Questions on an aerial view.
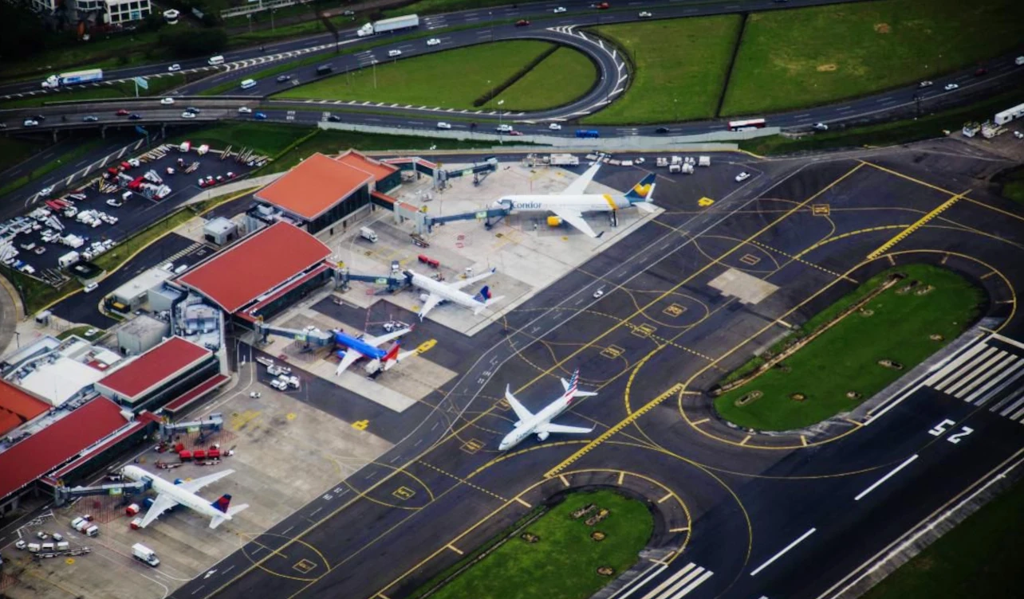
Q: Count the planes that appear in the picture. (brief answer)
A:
5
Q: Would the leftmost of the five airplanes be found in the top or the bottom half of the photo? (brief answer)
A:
bottom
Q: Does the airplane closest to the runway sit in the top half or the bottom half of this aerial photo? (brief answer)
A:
bottom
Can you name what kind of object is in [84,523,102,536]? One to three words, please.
vehicle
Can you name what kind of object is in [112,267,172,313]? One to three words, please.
building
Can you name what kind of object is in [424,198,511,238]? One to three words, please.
jet bridge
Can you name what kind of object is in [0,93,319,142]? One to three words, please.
bridge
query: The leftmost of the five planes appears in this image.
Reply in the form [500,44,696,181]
[123,468,246,528]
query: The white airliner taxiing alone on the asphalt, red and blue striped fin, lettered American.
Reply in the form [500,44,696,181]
[499,371,596,452]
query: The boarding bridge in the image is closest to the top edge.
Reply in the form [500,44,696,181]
[437,154,504,190]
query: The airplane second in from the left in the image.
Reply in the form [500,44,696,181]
[333,324,418,379]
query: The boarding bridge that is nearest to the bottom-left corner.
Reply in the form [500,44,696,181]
[57,469,158,514]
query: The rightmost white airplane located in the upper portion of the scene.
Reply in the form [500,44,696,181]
[500,154,655,241]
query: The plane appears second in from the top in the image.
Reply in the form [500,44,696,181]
[413,266,504,318]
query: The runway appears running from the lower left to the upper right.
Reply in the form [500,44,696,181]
[597,302,1024,599]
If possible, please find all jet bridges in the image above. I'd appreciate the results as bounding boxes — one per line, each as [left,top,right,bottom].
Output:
[257,322,343,352]
[57,469,158,514]
[160,409,230,448]
[437,154,504,190]
[424,198,511,238]
[339,267,419,296]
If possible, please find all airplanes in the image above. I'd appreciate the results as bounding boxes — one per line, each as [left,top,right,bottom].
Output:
[413,266,504,318]
[333,324,418,379]
[499,371,596,452]
[123,468,246,528]
[500,154,655,241]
